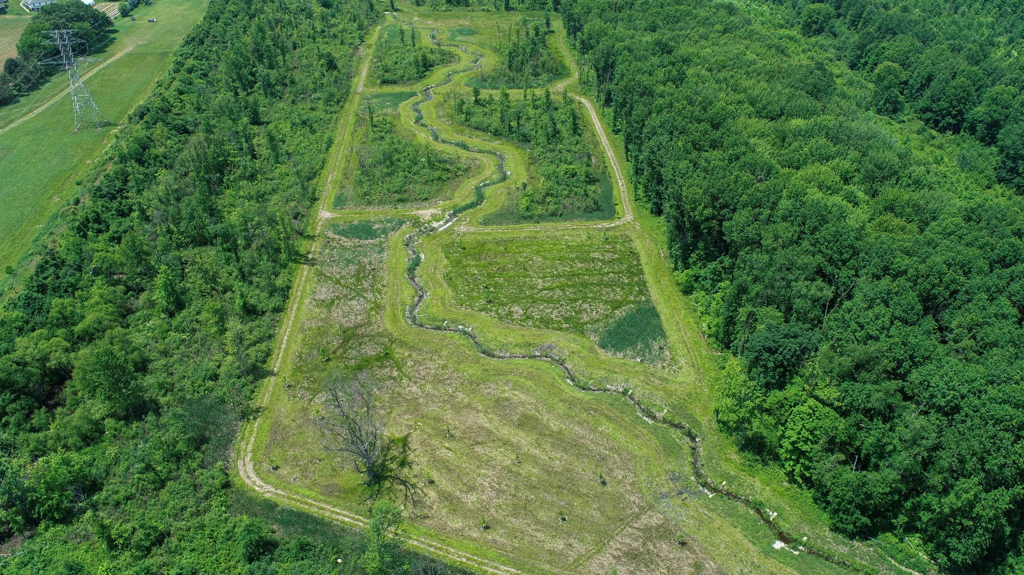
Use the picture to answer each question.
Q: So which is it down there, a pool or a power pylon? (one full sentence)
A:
Looking from above, you can make out a power pylon.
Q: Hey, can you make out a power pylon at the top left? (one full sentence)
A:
Yes, you'll find a power pylon at the top left.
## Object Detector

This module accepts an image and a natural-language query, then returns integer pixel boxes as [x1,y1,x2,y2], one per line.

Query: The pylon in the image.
[40,27,107,131]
